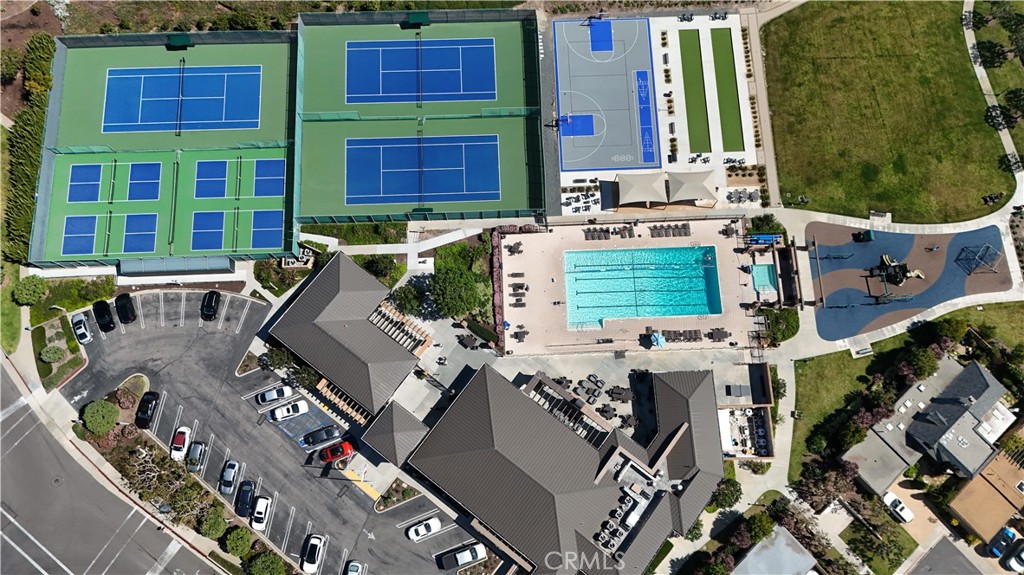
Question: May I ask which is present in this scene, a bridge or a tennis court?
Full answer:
Visible in the photo is a tennis court.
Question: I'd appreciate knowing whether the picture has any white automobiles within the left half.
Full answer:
Yes, a white automobile can be seen within the left half.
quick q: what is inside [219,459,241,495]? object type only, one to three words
car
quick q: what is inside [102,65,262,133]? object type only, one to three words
tennis court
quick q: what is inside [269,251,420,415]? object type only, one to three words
building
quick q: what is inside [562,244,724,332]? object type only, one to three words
swimming pool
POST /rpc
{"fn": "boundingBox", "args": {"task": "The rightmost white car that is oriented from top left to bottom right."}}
[883,492,917,525]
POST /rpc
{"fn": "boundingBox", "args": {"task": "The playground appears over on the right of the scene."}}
[806,223,1014,341]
